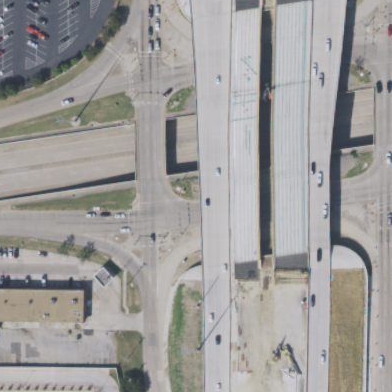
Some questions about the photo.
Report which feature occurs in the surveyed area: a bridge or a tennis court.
bridge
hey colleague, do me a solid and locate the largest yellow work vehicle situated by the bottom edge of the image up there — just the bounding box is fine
[282,347,298,375]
